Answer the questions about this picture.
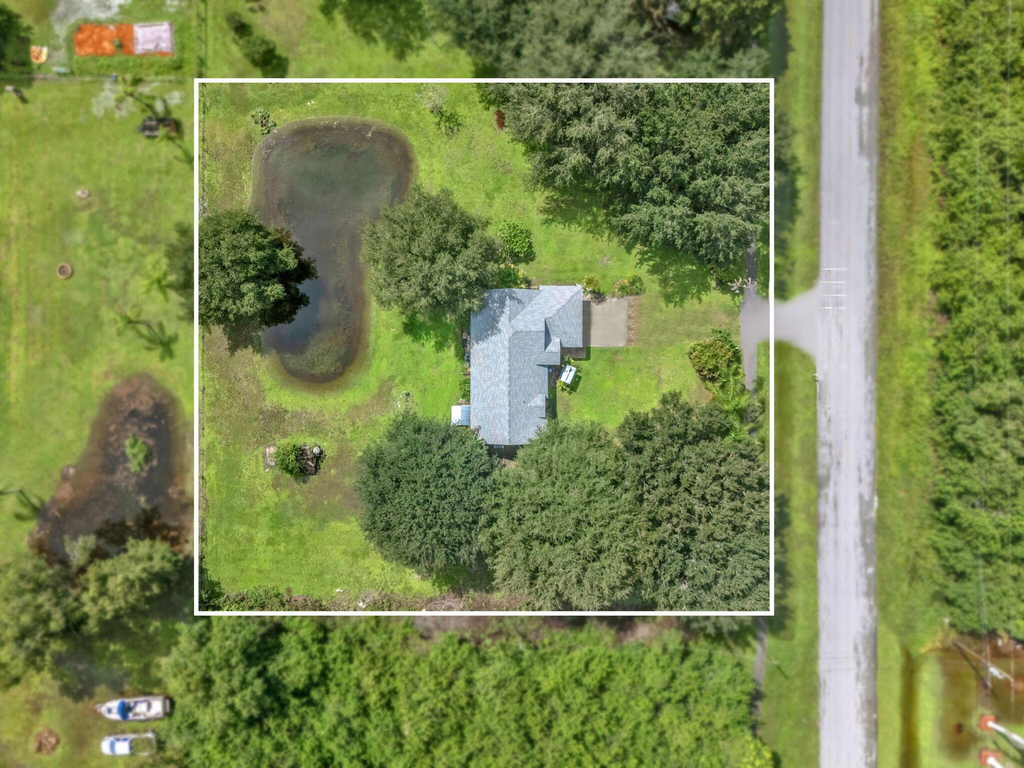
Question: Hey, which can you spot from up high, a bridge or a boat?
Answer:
boat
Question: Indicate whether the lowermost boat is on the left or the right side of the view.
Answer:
left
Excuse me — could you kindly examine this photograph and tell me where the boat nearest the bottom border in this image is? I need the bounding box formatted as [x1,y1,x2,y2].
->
[101,730,158,755]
